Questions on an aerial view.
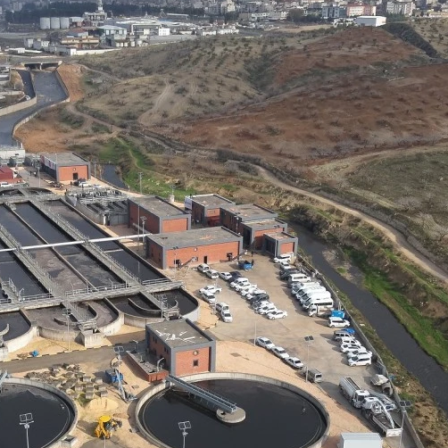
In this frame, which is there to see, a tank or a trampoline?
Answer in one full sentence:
Looking from above, you can make out a tank.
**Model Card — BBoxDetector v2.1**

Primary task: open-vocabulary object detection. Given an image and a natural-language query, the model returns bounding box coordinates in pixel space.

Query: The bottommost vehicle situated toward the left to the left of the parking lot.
[94,415,127,441]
